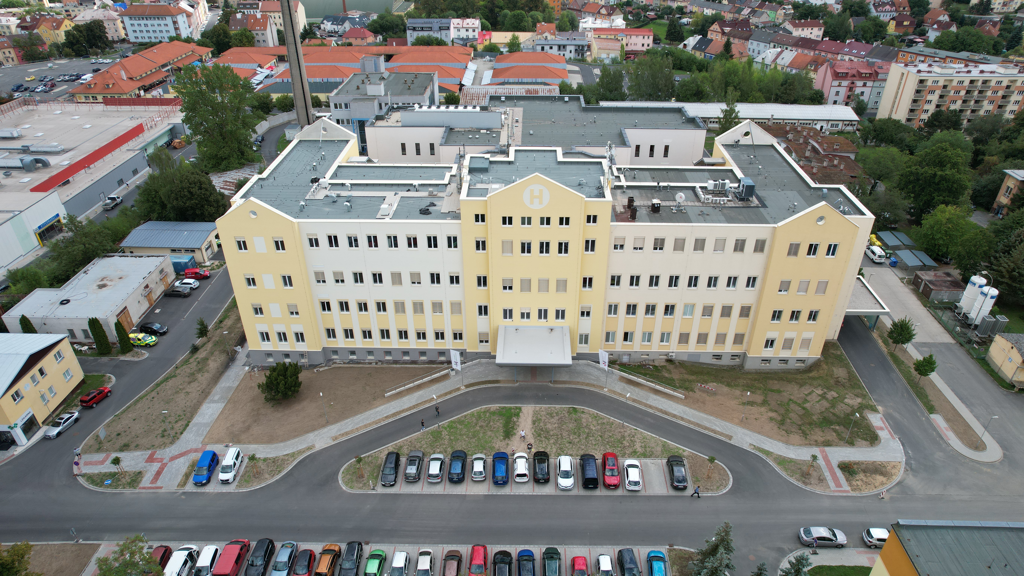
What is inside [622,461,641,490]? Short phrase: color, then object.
white car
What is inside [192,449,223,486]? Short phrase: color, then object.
blue van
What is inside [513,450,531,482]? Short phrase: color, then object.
white car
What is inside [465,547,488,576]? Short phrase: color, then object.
red car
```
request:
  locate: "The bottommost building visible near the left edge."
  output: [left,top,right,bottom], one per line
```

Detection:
[0,333,86,467]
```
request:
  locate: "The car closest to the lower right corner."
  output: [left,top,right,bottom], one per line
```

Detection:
[861,526,890,547]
